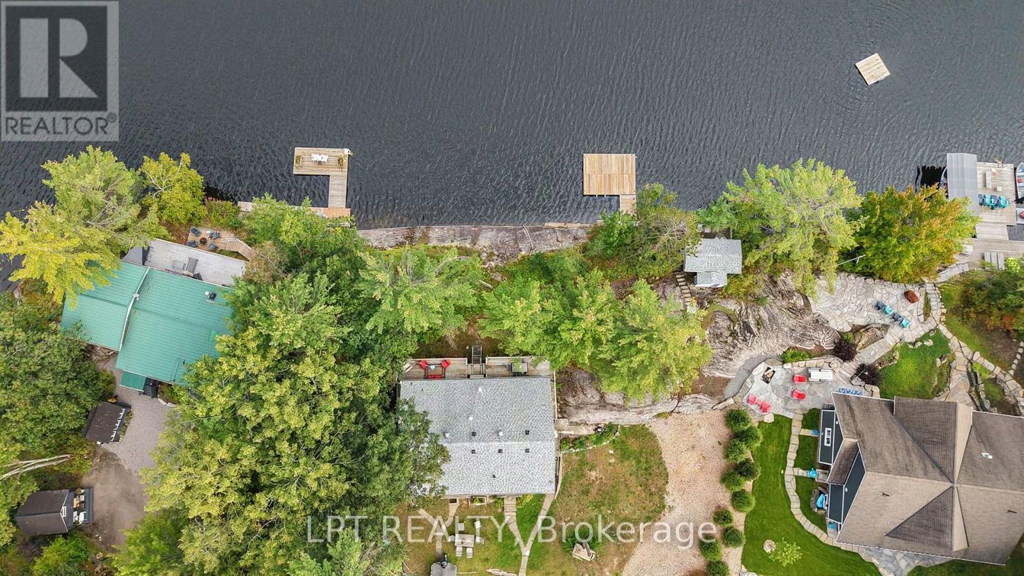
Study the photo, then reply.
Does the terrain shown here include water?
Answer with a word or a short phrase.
Yes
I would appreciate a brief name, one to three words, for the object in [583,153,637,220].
pier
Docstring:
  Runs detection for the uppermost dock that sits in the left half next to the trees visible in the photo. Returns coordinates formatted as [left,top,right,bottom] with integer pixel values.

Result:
[294,147,349,208]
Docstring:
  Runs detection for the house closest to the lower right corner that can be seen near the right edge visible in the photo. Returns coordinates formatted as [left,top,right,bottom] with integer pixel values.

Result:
[812,389,1024,561]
